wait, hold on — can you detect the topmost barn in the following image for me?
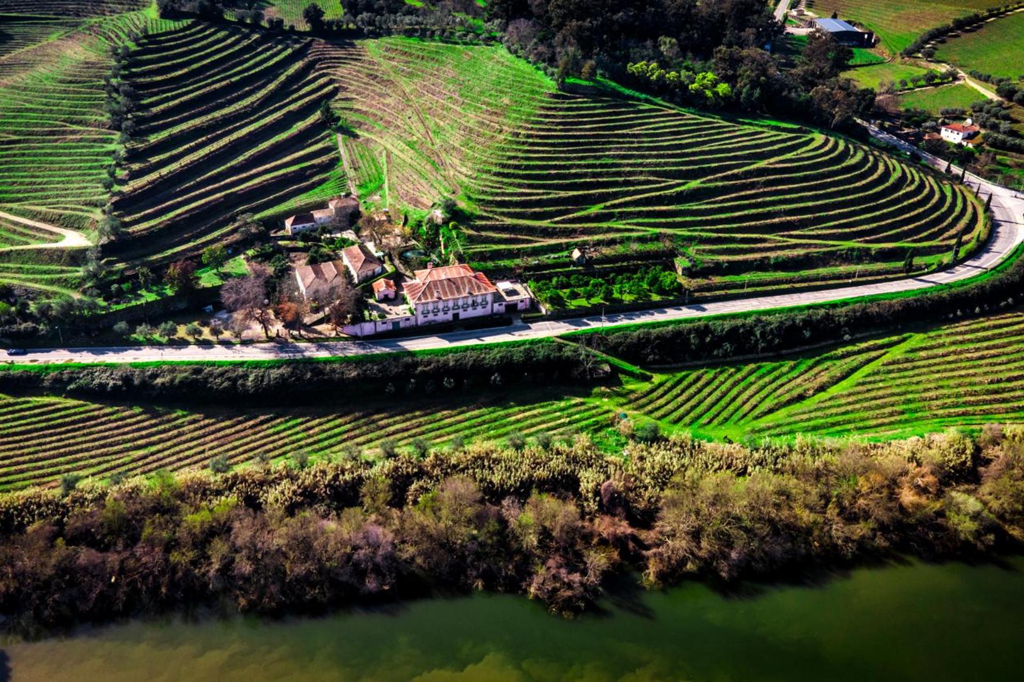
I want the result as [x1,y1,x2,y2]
[823,18,877,47]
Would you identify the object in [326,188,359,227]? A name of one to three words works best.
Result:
house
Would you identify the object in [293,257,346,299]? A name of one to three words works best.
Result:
barn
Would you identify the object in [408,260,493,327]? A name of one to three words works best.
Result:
house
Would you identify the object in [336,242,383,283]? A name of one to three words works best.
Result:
barn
